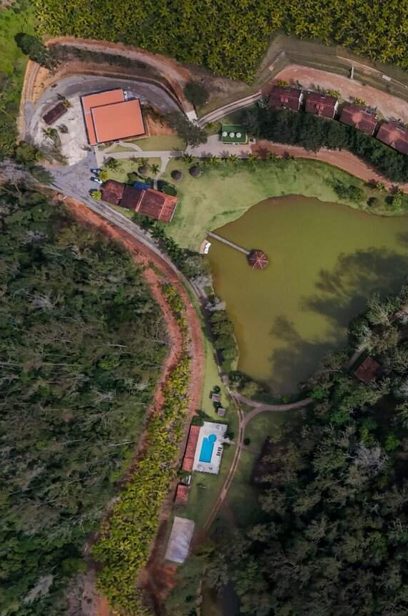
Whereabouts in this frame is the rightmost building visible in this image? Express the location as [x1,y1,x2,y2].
[376,123,408,153]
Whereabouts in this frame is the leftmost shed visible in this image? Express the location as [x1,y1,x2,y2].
[42,103,69,125]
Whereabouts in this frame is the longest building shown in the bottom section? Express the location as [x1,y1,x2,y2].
[181,426,202,471]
